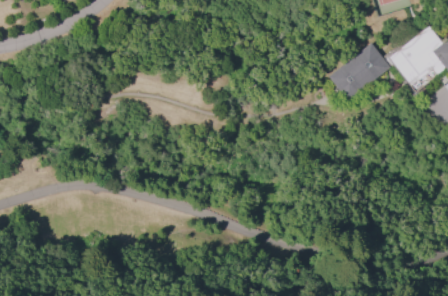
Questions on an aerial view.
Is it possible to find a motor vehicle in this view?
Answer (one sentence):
No, the frame has no motor vehicle in it.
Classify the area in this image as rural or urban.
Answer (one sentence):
From above, the setting appears rural.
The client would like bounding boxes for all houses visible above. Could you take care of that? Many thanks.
[331,43,390,98]
[391,27,445,84]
